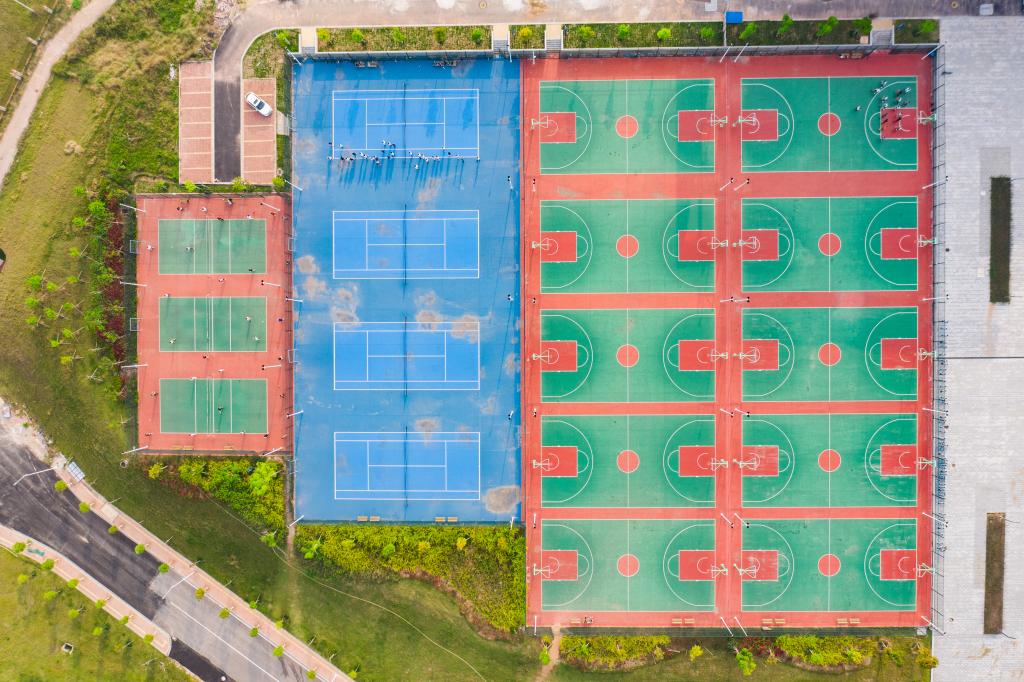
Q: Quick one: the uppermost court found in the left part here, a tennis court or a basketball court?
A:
tennis court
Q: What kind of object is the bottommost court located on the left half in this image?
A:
tennis court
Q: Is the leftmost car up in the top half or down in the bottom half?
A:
top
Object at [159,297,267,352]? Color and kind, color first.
green sports court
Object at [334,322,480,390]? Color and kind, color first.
blue tennis court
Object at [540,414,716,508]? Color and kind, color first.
green basketball court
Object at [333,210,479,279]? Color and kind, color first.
blue tennis court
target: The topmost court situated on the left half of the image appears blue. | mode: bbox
[333,89,479,159]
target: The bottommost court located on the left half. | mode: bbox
[334,432,480,500]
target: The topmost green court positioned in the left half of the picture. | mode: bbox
[159,219,267,275]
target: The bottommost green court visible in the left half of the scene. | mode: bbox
[160,379,268,434]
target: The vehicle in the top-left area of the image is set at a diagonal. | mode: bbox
[245,91,273,117]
